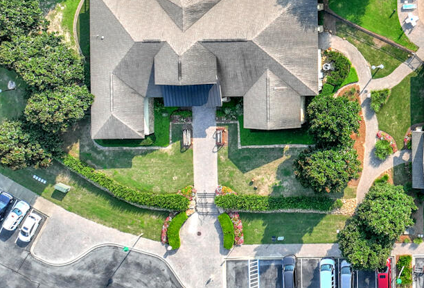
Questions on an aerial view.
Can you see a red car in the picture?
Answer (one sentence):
Yes, a red car appears in the view.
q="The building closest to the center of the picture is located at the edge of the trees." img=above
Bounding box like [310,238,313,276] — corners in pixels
[91,0,321,140]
